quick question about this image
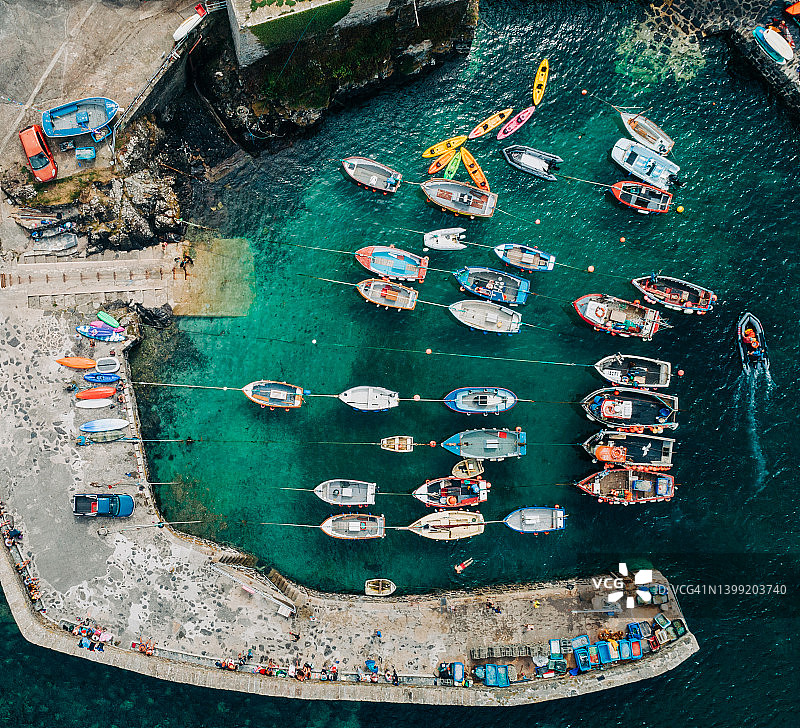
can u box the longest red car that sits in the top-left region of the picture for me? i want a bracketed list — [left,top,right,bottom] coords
[16,124,60,184]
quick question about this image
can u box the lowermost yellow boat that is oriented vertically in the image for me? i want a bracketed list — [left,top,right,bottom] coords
[534,59,548,105]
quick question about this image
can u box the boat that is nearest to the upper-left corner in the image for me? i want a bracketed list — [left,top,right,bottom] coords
[44,99,122,141]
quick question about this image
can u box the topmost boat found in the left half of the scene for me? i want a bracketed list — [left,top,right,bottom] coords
[173,10,203,40]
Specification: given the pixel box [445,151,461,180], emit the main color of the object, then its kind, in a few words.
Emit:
green boat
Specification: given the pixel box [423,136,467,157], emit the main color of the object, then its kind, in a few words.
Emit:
yellow boat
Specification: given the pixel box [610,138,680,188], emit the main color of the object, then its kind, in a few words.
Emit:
white boat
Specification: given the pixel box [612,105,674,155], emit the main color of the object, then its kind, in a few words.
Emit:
white boat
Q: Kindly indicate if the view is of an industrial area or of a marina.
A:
marina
